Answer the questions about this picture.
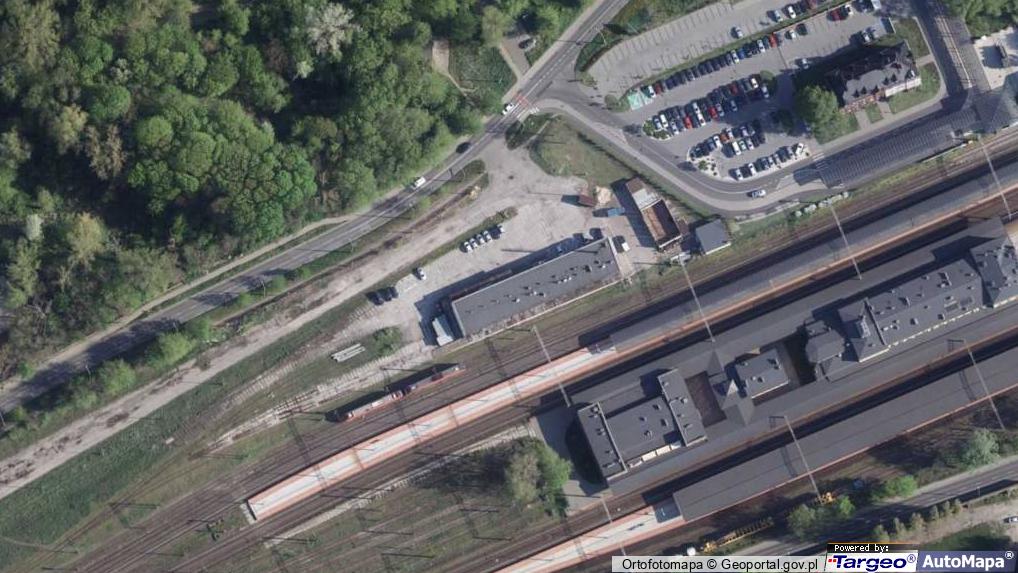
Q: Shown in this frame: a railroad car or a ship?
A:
railroad car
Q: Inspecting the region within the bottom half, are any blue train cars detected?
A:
No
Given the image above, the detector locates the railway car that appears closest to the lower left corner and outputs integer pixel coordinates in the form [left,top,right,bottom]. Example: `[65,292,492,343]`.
[343,389,406,423]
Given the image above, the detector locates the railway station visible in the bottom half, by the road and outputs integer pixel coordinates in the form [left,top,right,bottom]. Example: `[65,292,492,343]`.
[247,162,1018,573]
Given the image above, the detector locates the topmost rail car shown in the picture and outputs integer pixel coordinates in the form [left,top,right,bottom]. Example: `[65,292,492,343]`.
[404,362,468,395]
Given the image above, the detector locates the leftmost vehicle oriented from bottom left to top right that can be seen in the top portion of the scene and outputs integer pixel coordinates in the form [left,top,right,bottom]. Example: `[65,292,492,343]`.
[412,176,426,189]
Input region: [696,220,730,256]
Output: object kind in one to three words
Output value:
shed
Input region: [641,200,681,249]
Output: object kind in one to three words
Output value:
building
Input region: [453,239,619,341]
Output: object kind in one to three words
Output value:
building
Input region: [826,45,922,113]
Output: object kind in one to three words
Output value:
house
